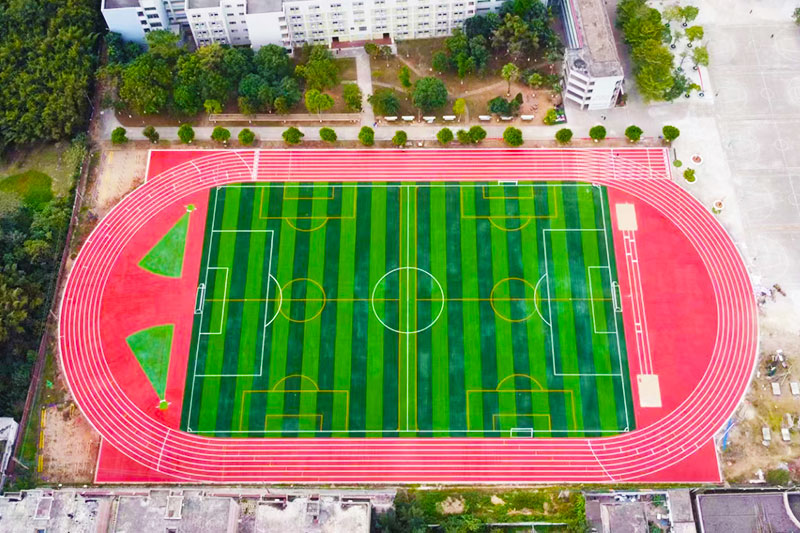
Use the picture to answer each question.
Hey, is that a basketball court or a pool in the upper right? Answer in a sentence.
The feature located in the upper right is a basketball court.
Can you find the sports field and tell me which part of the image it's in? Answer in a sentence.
You can find the sports field in the center area of the picture.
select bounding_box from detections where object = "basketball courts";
[700,23,800,68]
[720,120,800,170]
[709,70,800,116]
[741,228,800,286]
[730,172,800,227]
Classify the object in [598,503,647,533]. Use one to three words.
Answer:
house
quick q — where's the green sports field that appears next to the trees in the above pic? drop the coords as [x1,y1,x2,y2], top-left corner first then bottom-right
[180,181,638,437]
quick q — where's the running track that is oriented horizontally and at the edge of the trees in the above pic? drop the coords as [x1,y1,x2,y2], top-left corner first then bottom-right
[59,148,756,482]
